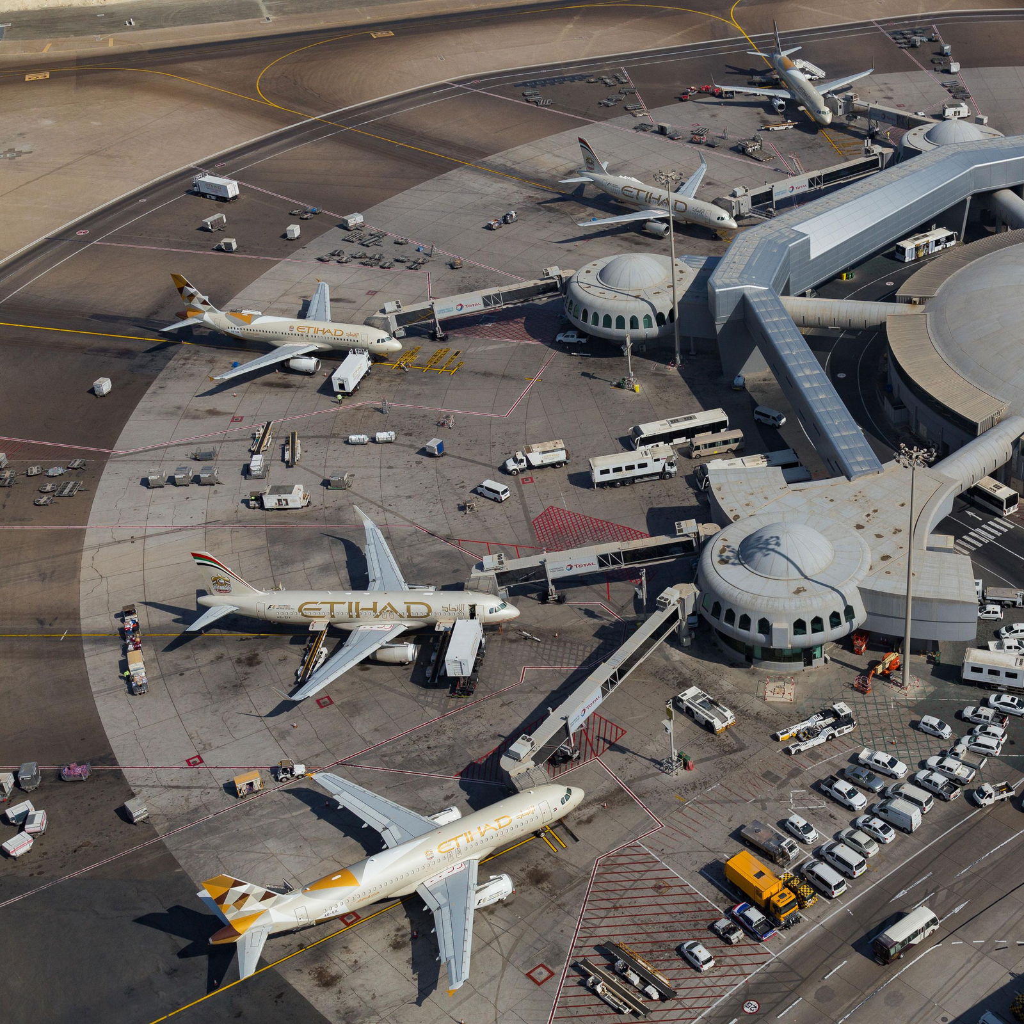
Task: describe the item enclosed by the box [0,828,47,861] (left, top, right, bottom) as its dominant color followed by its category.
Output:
white trailer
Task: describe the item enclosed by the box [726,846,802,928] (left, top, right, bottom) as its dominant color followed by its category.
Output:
orange truck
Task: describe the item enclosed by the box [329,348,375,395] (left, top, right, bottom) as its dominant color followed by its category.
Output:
white truck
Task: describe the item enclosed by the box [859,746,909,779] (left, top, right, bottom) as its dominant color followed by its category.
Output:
white truck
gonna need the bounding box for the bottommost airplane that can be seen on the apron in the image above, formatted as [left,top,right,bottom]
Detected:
[199,770,584,999]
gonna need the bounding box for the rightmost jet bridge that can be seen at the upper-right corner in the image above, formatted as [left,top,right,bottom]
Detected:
[827,86,928,138]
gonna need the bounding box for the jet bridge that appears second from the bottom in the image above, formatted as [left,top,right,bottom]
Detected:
[464,520,726,610]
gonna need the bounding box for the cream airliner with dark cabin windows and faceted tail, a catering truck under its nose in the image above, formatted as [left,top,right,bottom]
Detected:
[159,273,400,383]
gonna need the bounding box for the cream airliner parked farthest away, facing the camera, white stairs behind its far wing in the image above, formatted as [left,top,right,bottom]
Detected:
[710,24,875,126]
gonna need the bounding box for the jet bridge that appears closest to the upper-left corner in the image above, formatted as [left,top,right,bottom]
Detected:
[366,267,578,347]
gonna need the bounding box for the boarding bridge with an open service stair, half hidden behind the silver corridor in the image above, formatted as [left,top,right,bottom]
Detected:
[716,152,899,222]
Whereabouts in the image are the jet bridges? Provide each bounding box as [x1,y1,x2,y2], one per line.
[491,572,703,799]
[716,152,899,222]
[827,86,928,138]
[464,520,726,610]
[366,267,578,347]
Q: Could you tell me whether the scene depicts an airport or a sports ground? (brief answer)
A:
airport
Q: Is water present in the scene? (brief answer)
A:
No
